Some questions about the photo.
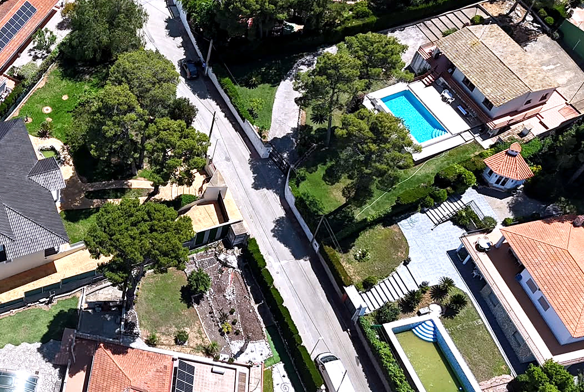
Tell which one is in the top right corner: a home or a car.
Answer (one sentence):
The one visible in the top right corner is a home.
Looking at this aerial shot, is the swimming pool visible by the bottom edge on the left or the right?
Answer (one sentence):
The swimming pool visible by the bottom edge is on the right side of the image.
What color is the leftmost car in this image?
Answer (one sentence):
From above, the leftmost car appears black.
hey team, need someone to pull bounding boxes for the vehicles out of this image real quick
[178,57,202,83]
[312,348,366,392]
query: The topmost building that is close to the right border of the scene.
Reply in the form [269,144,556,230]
[420,24,568,129]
